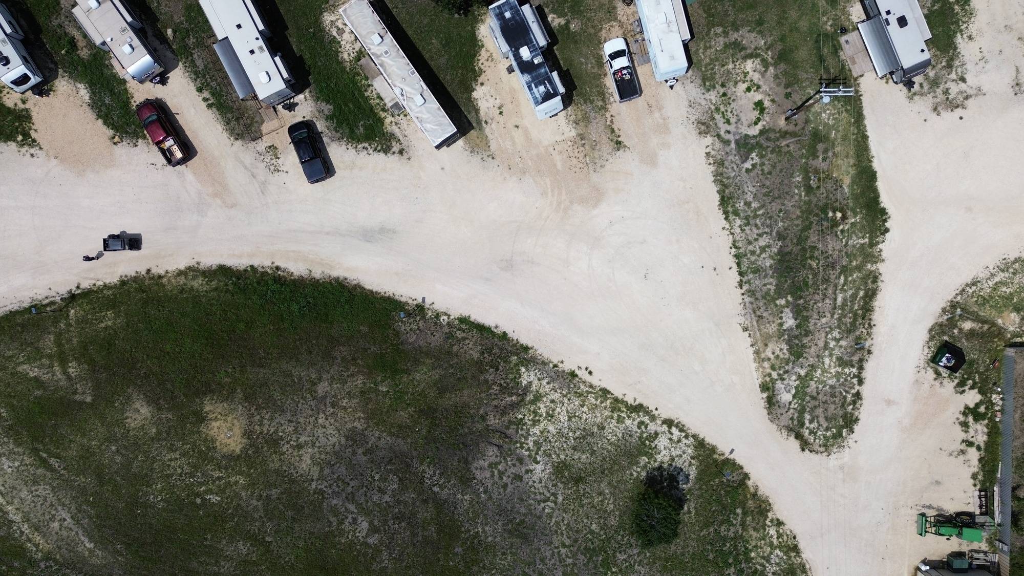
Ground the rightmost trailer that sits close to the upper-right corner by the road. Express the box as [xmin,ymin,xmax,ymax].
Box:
[852,0,932,92]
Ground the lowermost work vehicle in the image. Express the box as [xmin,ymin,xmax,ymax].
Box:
[912,510,982,543]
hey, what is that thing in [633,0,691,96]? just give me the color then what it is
white trailer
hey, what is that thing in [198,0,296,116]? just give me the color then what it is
white trailer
